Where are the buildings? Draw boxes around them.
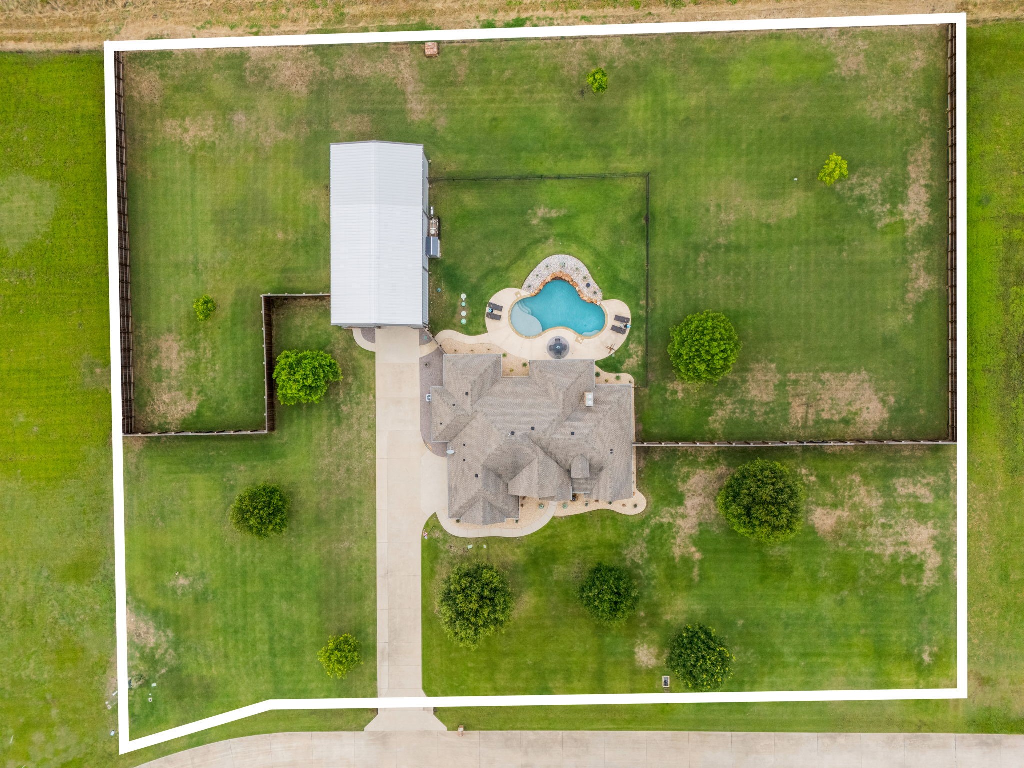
[430,353,633,527]
[329,139,431,331]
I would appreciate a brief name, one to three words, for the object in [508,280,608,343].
swimming pool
